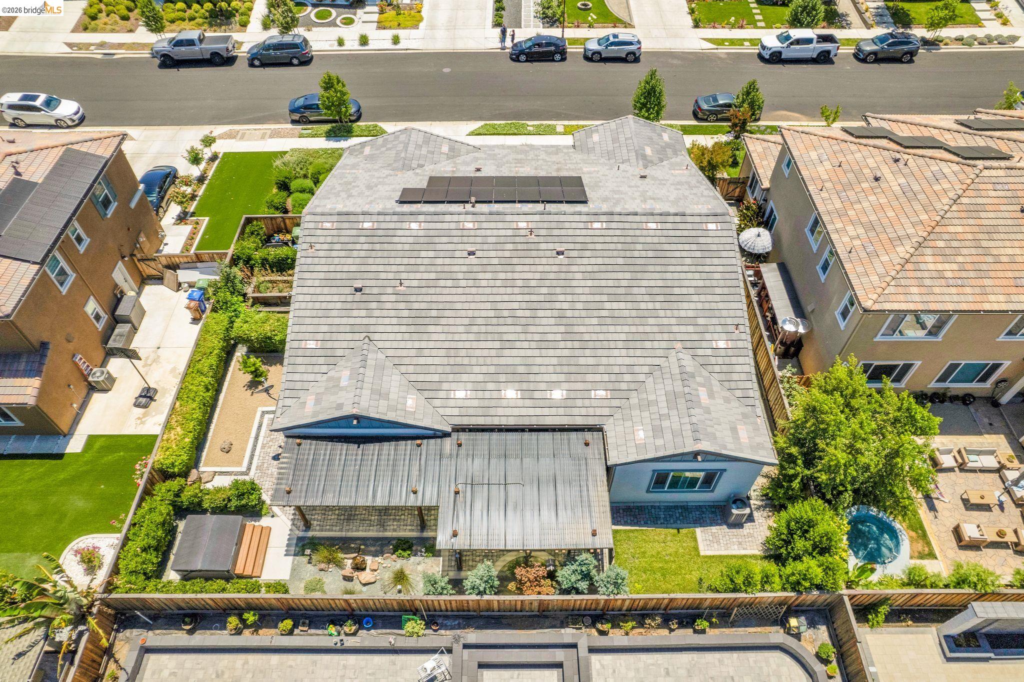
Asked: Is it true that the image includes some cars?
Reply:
Yes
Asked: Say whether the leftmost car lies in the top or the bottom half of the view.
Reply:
top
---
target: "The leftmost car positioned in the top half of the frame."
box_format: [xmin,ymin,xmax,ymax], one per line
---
[0,90,90,125]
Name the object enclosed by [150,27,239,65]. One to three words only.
truck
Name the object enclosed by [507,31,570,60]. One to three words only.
car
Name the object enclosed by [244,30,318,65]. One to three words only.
car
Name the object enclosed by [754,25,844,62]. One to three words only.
truck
